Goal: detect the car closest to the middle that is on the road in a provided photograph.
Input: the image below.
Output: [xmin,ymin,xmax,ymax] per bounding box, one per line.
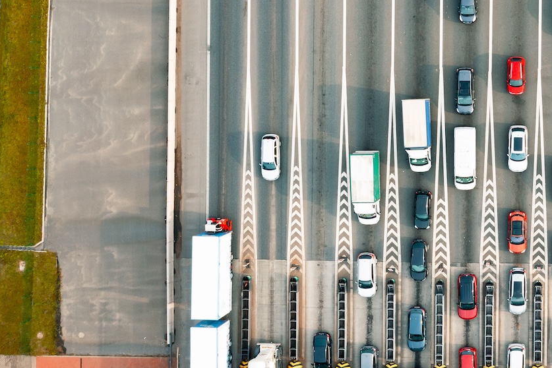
[257,134,282,179]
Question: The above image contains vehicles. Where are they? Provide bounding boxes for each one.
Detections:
[453,67,475,113]
[506,209,526,253]
[456,0,478,24]
[451,128,476,189]
[455,272,477,320]
[403,98,432,171]
[359,344,379,368]
[405,305,427,350]
[350,148,379,224]
[257,134,282,179]
[207,214,234,233]
[191,320,230,368]
[411,190,433,229]
[505,56,525,95]
[408,238,429,280]
[506,125,527,171]
[458,345,477,368]
[355,252,378,297]
[506,267,527,313]
[507,342,525,368]
[310,331,334,368]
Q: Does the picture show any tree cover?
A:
No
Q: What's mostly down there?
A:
paved ground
